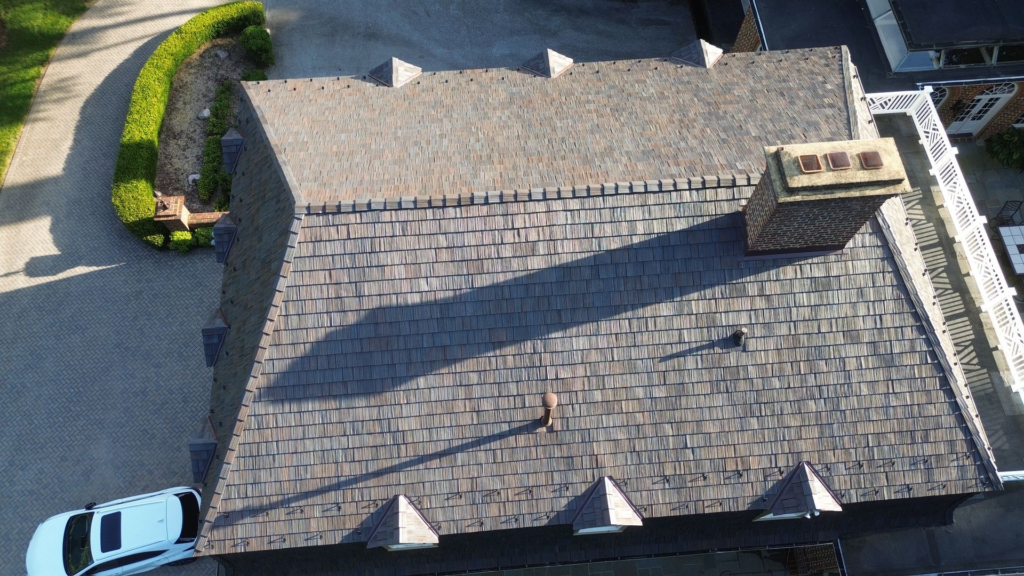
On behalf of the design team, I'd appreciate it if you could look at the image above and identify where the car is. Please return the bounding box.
[25,486,210,576]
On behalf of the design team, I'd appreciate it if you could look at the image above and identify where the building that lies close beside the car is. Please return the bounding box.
[186,37,1006,576]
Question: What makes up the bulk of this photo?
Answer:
buildings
